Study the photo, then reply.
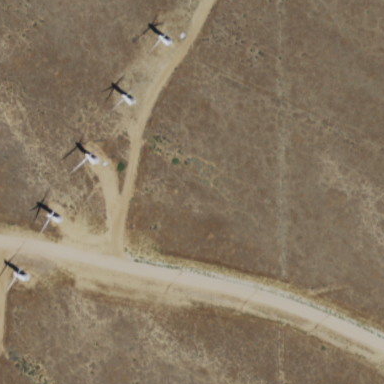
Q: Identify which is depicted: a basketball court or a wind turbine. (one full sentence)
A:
This aerial view contains a wind turbine.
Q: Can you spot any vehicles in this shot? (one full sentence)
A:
No, the frame has no vehicle in it.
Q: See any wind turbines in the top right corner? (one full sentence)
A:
No, no wind turbine appears in the top right corner.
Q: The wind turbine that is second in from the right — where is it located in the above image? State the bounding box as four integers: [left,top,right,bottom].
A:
[113,80,143,108]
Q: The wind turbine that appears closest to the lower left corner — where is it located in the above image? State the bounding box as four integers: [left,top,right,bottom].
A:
[8,256,32,294]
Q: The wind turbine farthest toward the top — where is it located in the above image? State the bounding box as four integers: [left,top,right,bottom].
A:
[144,29,174,58]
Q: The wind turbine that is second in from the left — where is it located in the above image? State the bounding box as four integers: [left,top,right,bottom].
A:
[43,194,65,228]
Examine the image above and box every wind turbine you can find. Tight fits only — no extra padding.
[43,194,65,228]
[8,256,32,294]
[113,80,143,108]
[70,148,102,176]
[144,29,174,58]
